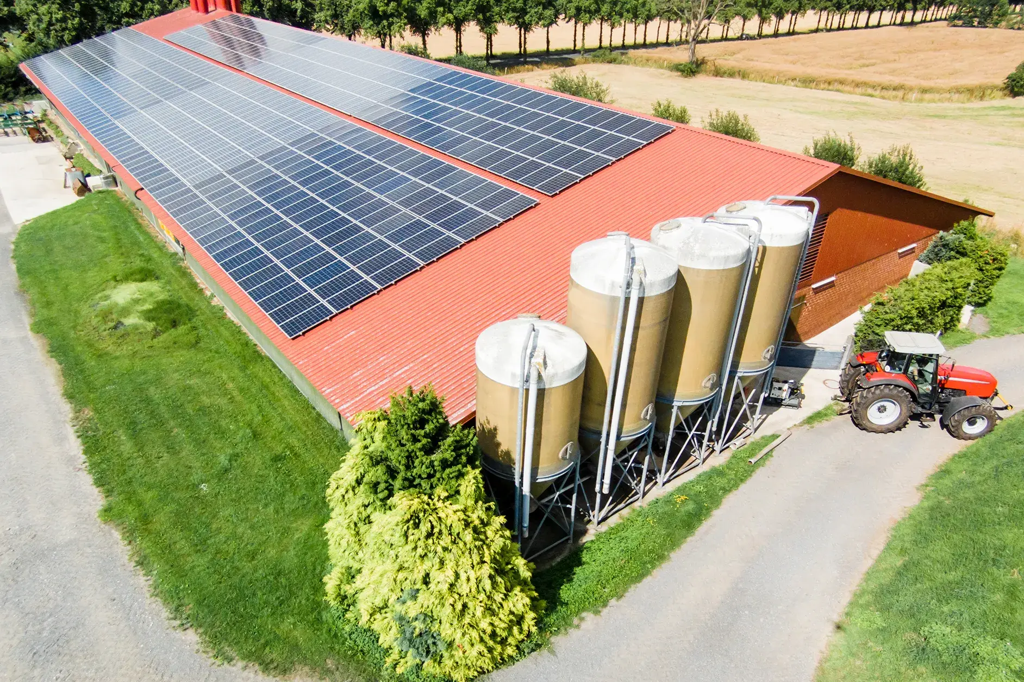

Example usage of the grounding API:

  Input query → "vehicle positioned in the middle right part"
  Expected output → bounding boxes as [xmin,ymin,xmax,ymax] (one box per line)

[823,331,1012,441]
